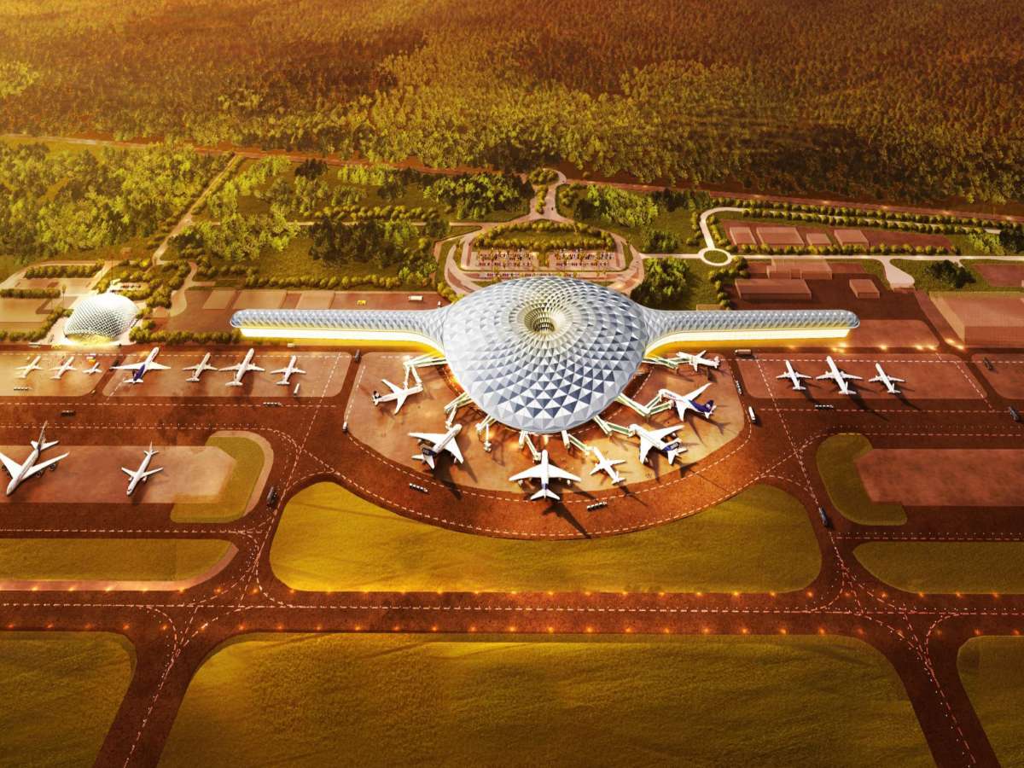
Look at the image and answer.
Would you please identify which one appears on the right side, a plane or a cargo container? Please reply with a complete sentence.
It is a plane that can be seen on the right side.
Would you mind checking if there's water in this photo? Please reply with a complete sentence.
No, the scene doesn't show any water.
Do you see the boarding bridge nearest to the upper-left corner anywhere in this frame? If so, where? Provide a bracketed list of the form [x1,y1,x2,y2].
[403,351,444,389]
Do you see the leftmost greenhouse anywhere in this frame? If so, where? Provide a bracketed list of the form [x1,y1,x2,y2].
[65,295,141,340]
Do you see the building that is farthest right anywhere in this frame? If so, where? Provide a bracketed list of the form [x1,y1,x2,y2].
[925,291,1024,345]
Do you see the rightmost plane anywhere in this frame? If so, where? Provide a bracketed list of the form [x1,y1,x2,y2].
[865,363,908,393]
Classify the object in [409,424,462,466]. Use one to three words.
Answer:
airplane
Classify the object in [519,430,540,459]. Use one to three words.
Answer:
jet bridge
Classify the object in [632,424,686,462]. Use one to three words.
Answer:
airplane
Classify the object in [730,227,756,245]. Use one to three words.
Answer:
building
